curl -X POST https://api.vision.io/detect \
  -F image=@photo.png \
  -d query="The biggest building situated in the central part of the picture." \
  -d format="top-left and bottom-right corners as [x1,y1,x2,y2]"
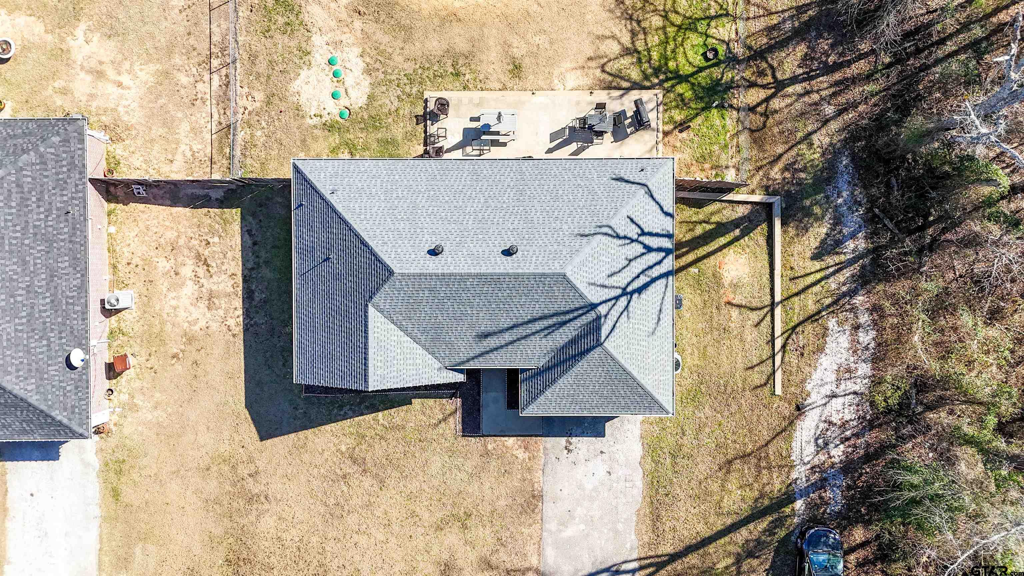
[292,157,676,417]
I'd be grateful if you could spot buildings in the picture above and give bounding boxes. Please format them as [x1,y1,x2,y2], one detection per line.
[0,113,114,444]
[292,157,676,417]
